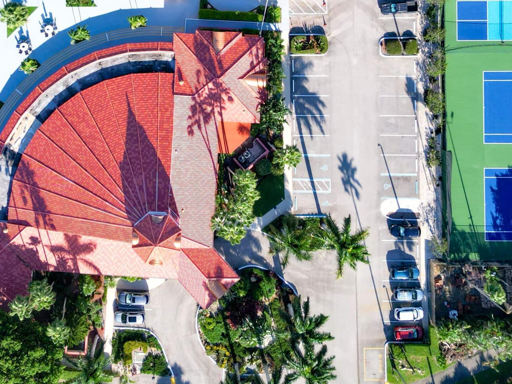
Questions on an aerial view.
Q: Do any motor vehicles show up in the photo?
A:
Yes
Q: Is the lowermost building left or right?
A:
left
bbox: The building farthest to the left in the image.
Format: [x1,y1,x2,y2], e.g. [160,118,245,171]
[0,30,268,318]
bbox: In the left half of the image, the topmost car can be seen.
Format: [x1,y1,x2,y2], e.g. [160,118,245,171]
[118,291,150,306]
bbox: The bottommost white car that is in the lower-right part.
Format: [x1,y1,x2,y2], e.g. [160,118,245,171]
[394,306,424,323]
